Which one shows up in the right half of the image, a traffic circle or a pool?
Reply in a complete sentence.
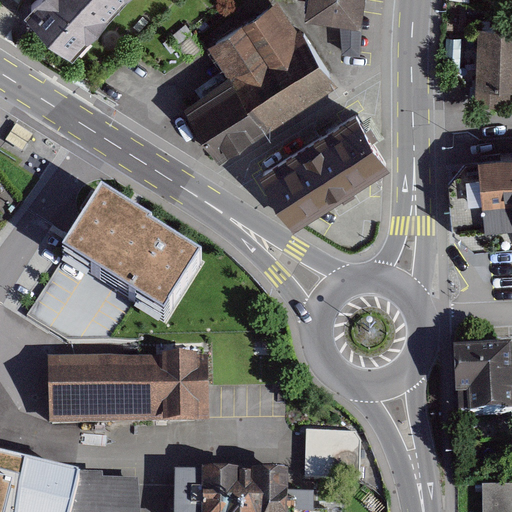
Visible in the right half of the image is a traffic circle.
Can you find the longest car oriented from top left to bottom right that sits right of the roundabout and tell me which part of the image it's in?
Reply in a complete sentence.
The longest car oriented from top left to bottom right that sits right of the roundabout sits in the right section of the image.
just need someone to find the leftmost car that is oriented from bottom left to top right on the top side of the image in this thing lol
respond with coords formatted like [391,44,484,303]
[262,152,284,169]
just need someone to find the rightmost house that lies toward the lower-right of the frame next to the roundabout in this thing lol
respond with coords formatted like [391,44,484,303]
[454,339,512,418]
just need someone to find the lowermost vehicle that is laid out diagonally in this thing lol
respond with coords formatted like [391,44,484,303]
[294,301,313,324]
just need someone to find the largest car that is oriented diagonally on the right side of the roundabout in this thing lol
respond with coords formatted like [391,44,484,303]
[447,247,467,270]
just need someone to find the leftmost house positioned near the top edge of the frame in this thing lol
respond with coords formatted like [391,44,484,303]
[24,0,134,62]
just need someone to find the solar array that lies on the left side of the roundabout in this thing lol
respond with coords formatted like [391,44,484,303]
[54,384,151,415]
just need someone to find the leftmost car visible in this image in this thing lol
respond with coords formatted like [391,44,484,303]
[15,284,36,296]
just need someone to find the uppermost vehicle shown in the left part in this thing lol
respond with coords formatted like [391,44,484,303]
[132,64,149,80]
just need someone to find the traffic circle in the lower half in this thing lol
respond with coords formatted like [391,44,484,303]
[302,262,439,400]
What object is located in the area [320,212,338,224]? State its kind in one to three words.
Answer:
vehicle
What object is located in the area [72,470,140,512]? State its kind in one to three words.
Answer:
shed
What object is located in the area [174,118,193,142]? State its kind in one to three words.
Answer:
car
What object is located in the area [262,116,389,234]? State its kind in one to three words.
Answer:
building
